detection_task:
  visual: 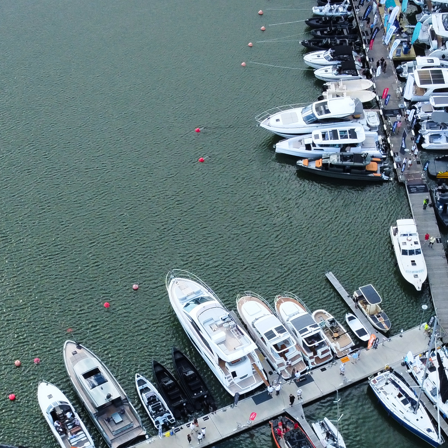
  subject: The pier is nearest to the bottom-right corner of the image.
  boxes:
[404,373,448,440]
